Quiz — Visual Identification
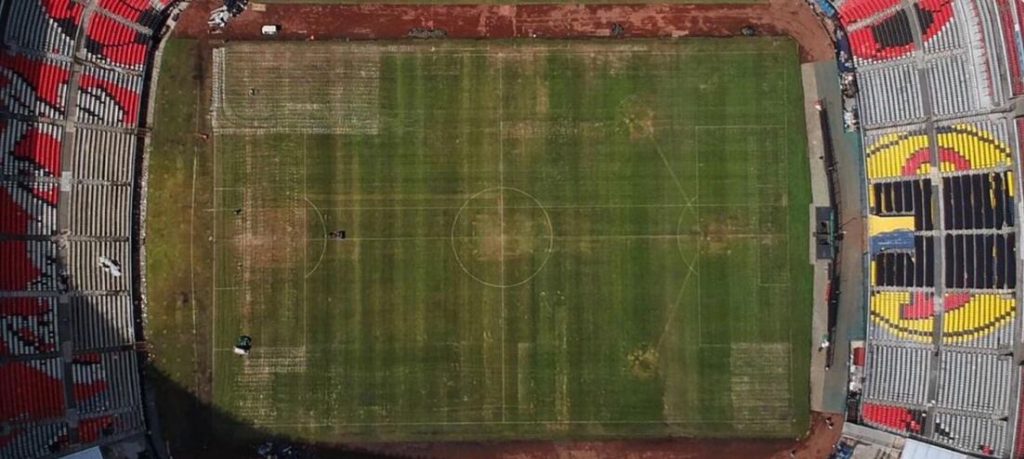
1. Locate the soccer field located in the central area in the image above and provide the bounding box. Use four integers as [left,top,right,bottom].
[147,33,813,444]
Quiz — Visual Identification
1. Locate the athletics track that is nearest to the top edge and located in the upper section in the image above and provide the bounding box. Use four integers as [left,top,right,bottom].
[170,0,835,62]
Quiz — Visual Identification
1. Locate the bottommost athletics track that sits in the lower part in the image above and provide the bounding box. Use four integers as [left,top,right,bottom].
[173,411,843,459]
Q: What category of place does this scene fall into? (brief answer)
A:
sports ground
